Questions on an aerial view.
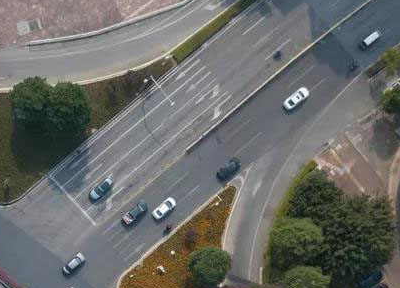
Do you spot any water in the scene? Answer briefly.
No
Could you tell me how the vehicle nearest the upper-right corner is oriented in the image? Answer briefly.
at an angle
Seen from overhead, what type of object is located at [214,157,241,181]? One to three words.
car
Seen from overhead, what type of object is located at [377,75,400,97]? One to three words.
car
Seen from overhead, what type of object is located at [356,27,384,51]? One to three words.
vehicle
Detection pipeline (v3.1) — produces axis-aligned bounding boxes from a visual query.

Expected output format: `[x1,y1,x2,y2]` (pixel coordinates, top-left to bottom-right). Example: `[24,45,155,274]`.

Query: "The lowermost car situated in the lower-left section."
[61,252,86,275]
